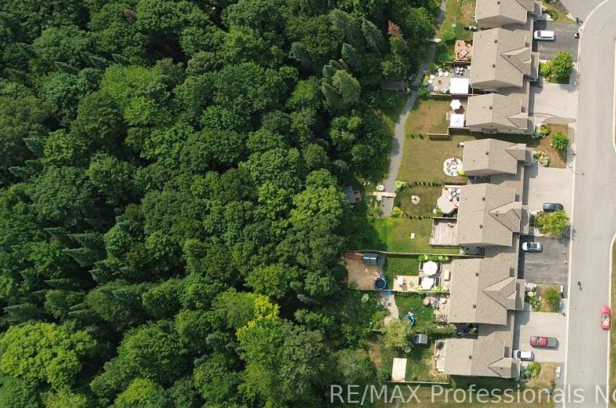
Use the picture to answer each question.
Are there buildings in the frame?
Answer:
Yes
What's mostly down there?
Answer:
trees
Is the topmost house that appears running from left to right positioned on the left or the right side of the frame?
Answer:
right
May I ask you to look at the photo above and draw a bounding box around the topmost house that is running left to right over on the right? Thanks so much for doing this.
[476,0,542,32]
